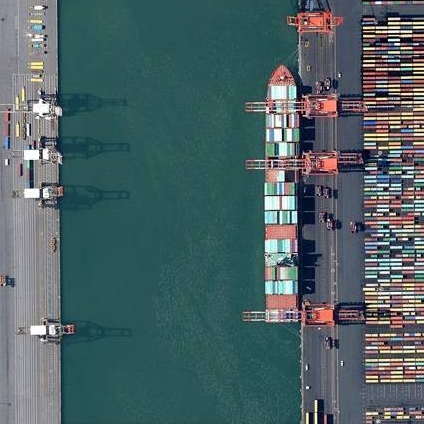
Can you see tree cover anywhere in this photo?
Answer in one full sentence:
No, the picture contains no tree cover.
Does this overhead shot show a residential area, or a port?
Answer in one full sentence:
What you see here is a port.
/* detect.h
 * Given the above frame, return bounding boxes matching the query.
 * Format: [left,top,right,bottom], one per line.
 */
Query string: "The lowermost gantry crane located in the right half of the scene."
[243,302,364,330]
